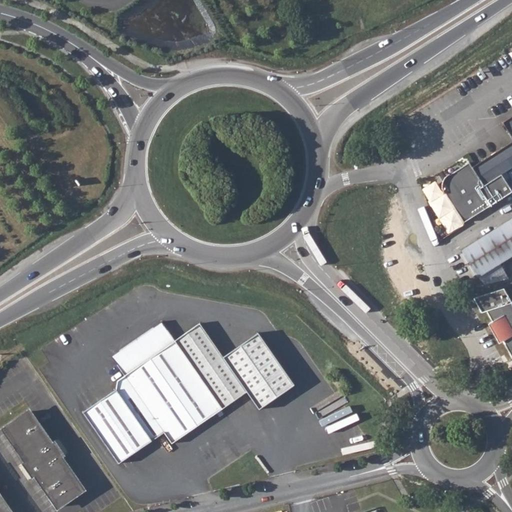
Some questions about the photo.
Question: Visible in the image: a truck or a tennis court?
truck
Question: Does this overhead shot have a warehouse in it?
Yes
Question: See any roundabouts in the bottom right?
Yes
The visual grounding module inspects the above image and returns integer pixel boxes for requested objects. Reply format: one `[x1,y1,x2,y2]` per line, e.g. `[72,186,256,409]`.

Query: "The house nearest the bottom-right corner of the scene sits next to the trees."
[474,289,512,360]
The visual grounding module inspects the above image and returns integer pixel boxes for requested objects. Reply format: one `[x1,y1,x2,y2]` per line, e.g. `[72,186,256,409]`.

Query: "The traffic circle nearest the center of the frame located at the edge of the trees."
[127,66,327,266]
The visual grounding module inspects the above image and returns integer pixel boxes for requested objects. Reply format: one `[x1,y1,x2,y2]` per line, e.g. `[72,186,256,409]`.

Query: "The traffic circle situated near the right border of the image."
[412,394,504,486]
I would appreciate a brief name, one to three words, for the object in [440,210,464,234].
tent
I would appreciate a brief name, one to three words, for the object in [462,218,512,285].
building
